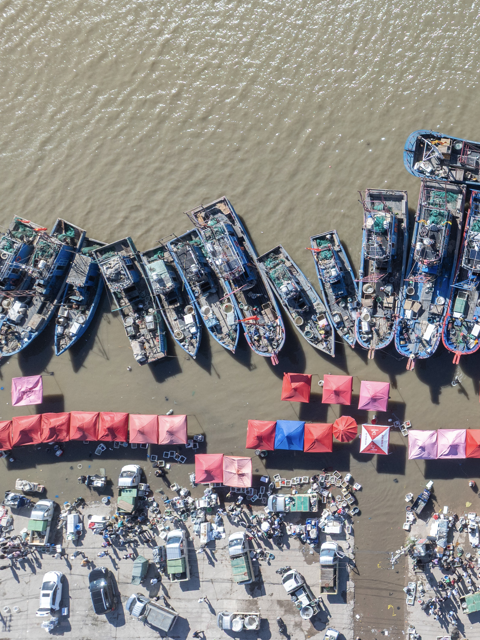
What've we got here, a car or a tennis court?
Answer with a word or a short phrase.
car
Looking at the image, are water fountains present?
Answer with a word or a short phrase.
No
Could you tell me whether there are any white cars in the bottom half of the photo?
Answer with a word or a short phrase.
Yes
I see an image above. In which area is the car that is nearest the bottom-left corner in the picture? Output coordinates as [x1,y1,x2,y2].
[37,569,66,618]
